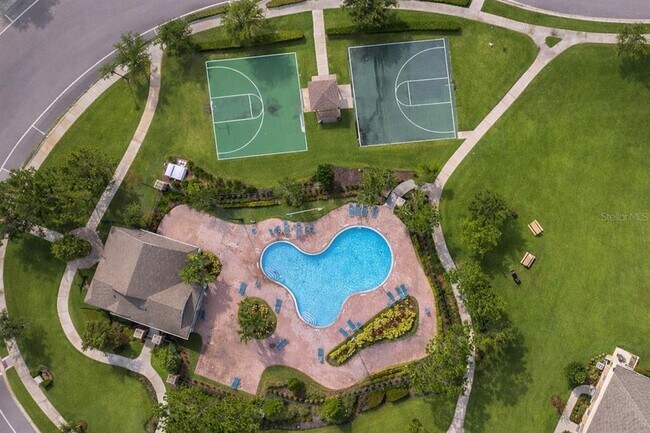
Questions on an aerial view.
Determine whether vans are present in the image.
No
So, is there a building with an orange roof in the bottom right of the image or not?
No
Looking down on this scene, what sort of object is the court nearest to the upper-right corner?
basketball court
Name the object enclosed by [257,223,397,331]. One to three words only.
swimming pool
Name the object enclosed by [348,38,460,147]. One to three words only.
basketball court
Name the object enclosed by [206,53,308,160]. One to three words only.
basketball court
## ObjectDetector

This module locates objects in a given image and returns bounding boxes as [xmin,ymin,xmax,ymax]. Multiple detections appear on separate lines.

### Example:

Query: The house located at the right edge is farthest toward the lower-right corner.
[574,348,650,433]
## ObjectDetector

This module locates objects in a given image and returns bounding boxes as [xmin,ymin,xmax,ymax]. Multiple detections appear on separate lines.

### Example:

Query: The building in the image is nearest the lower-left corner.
[85,225,208,340]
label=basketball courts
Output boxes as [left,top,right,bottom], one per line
[206,53,308,160]
[348,38,460,147]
